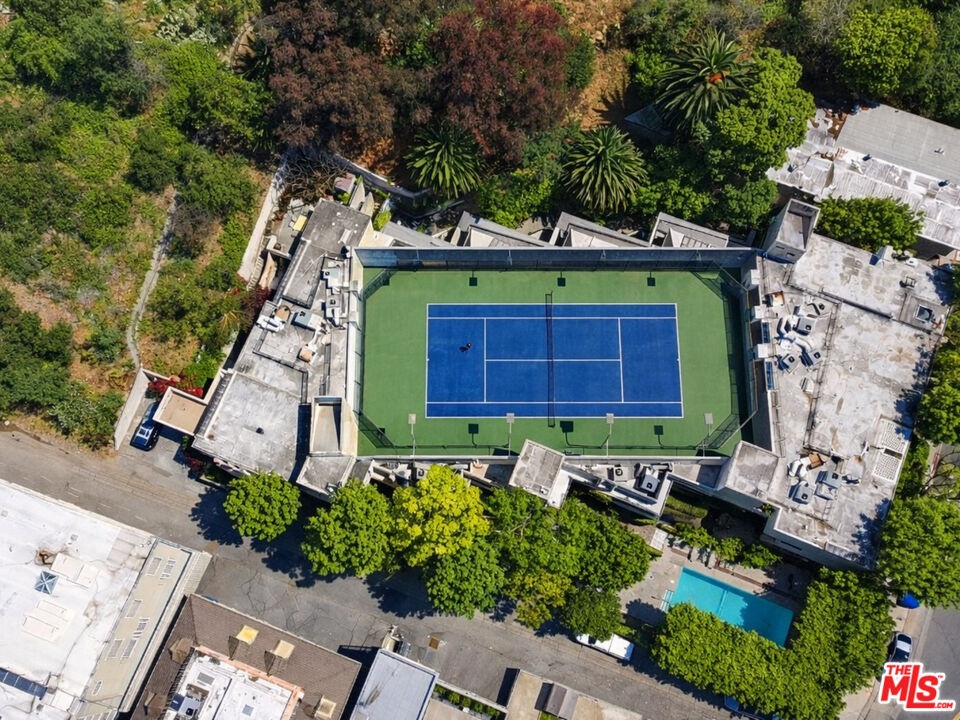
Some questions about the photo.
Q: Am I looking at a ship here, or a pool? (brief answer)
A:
pool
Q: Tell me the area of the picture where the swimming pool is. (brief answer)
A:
bottom right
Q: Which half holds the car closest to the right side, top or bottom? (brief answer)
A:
bottom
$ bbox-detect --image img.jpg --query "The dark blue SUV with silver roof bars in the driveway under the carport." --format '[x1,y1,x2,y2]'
[128,399,163,454]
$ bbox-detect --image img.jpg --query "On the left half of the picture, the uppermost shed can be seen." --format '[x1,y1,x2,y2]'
[334,172,357,195]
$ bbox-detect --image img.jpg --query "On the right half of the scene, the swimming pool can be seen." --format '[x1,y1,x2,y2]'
[660,562,800,643]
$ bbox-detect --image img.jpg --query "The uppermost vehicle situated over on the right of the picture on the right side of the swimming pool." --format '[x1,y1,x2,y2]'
[884,626,917,681]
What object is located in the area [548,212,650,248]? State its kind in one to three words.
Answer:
house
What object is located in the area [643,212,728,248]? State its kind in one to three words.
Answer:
house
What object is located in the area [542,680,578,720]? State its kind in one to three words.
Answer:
shed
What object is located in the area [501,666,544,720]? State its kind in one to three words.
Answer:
building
